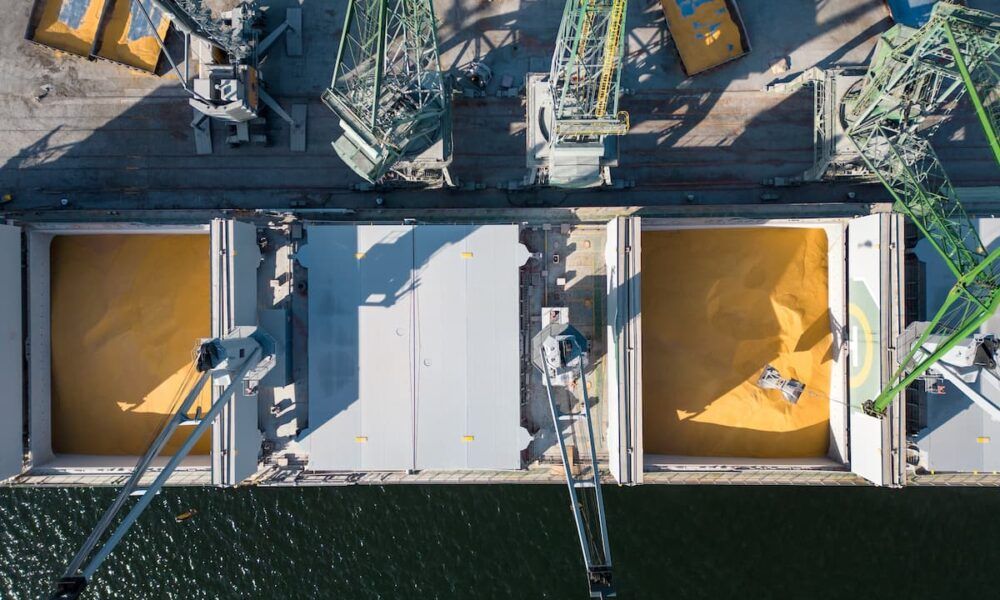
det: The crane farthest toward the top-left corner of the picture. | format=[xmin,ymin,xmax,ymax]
[120,0,308,159]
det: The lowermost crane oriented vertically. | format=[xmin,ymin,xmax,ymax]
[528,298,612,600]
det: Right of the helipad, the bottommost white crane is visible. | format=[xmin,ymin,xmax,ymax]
[891,315,1000,433]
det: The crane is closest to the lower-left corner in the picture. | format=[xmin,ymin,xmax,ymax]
[56,301,297,600]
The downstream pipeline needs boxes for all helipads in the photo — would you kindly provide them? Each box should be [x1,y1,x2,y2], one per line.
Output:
[849,279,880,422]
